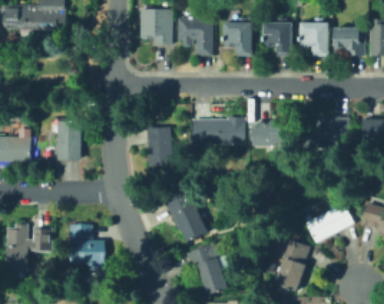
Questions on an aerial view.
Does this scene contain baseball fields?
No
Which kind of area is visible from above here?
residential area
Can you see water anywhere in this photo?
No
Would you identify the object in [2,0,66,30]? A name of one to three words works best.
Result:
house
